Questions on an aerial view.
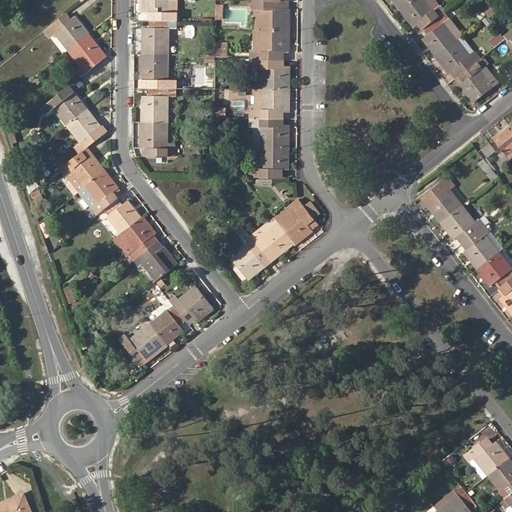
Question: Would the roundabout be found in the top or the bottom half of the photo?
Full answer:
It is in the bottom half that the roundabout appears.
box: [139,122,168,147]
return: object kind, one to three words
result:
house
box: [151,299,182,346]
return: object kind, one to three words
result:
house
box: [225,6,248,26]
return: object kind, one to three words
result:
swimming pool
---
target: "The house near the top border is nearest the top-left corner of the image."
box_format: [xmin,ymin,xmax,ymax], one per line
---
[43,10,88,53]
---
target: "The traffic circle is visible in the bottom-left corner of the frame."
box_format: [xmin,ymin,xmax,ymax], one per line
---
[0,370,127,500]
